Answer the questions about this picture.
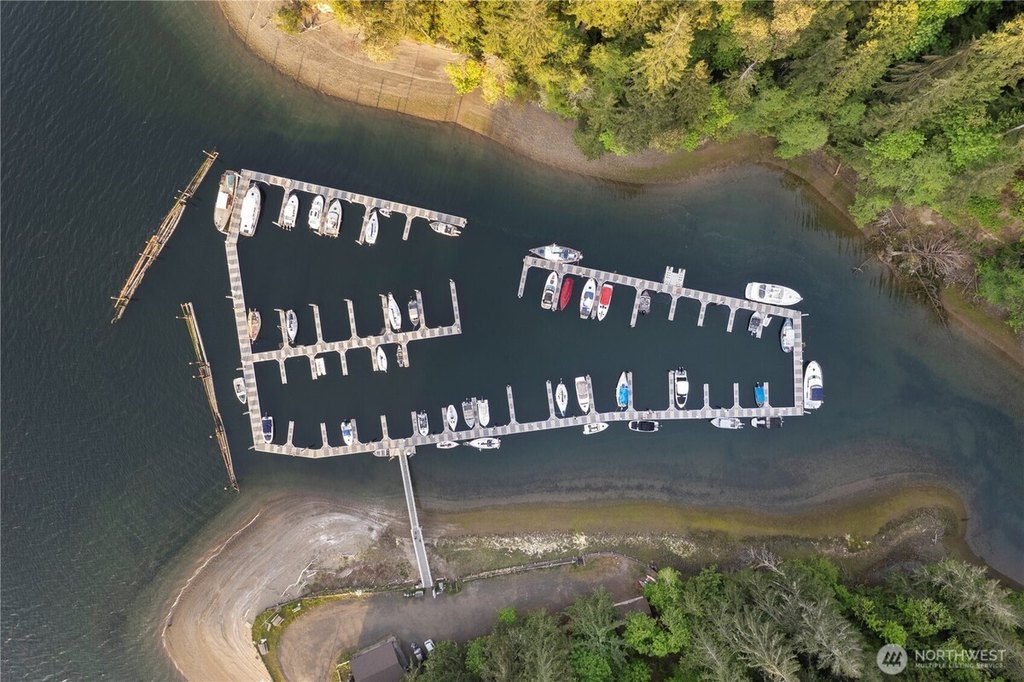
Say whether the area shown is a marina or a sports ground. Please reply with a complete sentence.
This looks like a marina.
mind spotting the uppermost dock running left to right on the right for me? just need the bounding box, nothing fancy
[517,256,803,340]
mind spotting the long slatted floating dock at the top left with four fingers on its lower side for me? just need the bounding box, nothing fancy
[246,170,467,246]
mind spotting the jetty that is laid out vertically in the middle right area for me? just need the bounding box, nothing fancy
[792,319,804,407]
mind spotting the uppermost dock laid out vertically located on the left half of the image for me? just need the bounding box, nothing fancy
[227,168,265,444]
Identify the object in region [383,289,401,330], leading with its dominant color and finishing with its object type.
white boat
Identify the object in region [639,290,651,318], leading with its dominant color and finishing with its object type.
gray boat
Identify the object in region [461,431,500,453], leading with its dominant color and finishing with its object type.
white boat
